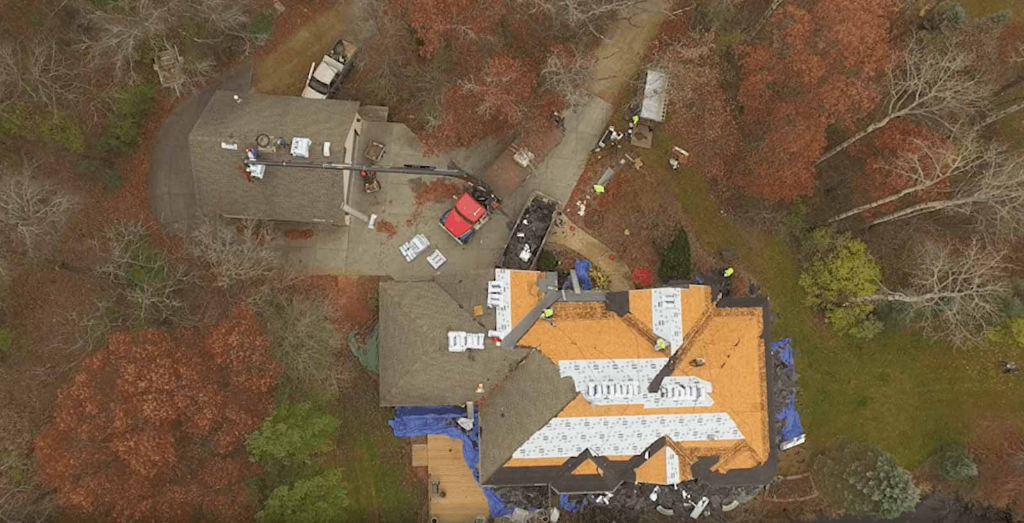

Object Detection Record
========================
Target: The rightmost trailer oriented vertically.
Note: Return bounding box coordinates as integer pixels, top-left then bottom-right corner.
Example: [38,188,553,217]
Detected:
[634,66,667,155]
